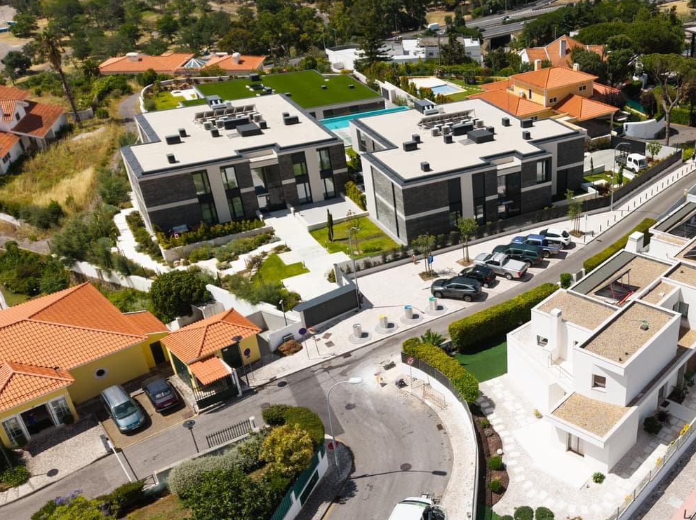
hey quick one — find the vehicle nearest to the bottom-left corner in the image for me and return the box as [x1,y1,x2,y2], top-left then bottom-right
[98,377,147,430]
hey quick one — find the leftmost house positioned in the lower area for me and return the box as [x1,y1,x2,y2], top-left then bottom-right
[0,279,170,455]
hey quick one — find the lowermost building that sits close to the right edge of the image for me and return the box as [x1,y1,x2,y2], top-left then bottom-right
[506,249,696,470]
